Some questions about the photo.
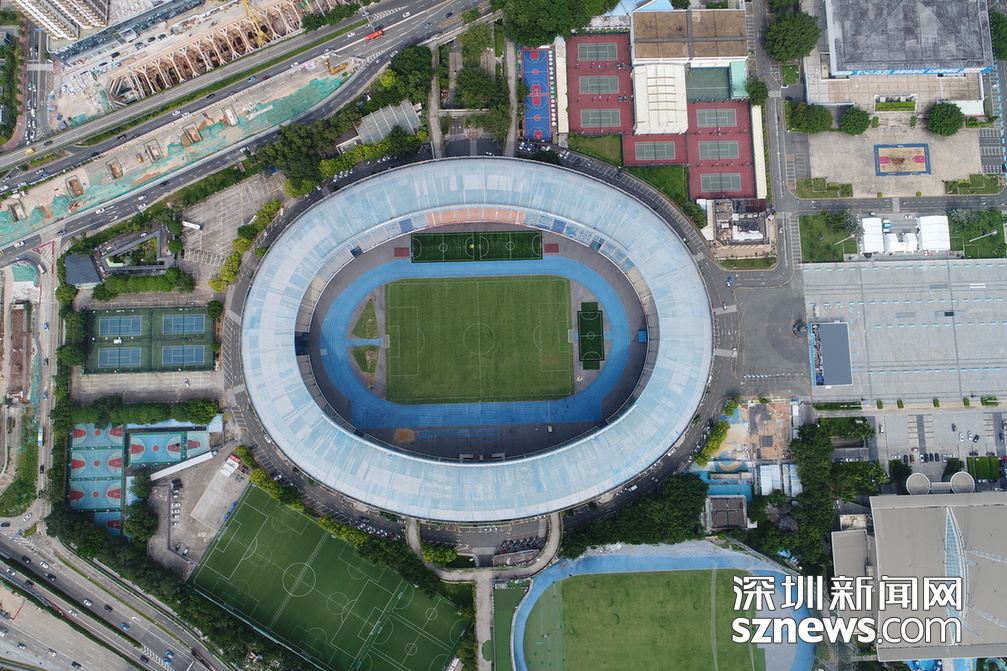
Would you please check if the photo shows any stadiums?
Yes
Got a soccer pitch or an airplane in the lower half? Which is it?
soccer pitch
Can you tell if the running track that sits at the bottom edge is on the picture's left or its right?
right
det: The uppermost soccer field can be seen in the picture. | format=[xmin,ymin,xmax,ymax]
[411,230,543,264]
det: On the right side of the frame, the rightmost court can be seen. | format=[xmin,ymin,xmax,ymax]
[874,143,931,176]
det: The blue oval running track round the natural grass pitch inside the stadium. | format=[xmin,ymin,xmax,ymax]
[321,256,629,428]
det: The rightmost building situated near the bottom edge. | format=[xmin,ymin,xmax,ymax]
[861,489,1007,662]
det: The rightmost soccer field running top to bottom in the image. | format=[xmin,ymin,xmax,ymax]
[577,302,604,370]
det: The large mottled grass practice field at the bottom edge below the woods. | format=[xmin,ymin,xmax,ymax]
[562,571,757,671]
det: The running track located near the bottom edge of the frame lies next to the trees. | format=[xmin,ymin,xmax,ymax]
[509,553,818,671]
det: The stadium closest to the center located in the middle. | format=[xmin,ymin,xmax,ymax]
[239,155,715,524]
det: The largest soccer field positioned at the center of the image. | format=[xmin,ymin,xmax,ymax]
[385,275,574,404]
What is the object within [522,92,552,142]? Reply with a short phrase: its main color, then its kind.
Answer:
blue basketball court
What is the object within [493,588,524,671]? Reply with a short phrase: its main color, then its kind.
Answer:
green sports field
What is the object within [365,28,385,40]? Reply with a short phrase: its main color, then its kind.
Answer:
red vehicle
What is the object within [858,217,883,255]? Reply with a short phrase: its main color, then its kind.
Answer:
white tent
